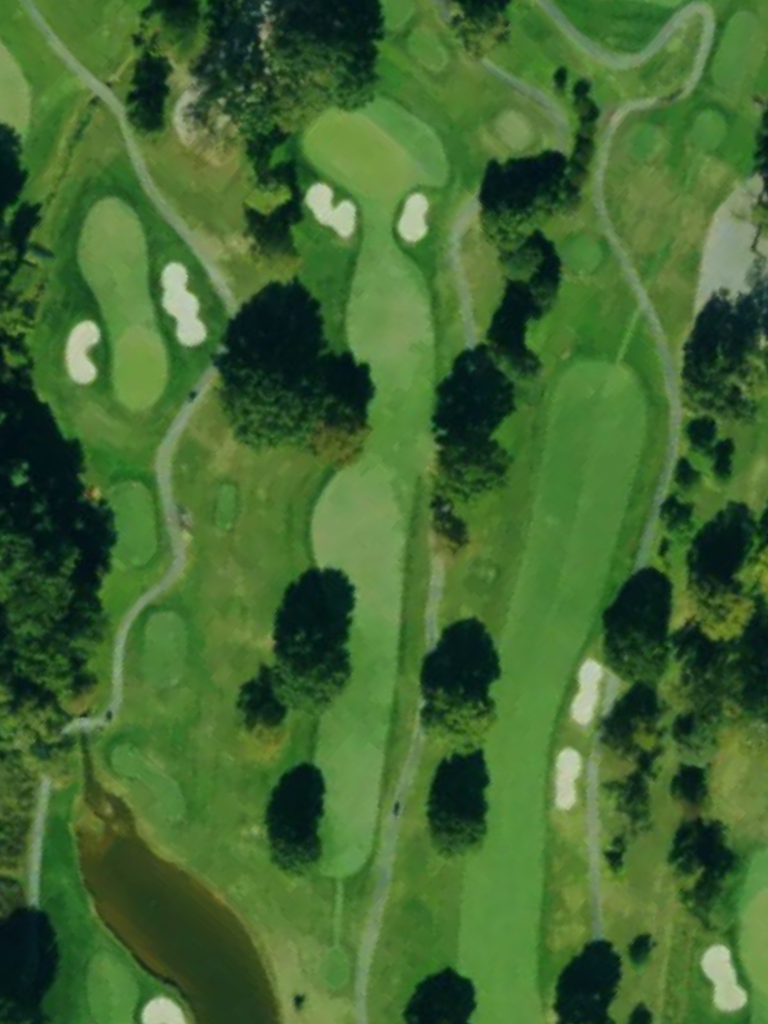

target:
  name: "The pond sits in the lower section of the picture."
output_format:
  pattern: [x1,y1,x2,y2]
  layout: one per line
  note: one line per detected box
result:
[78,707,281,1024]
